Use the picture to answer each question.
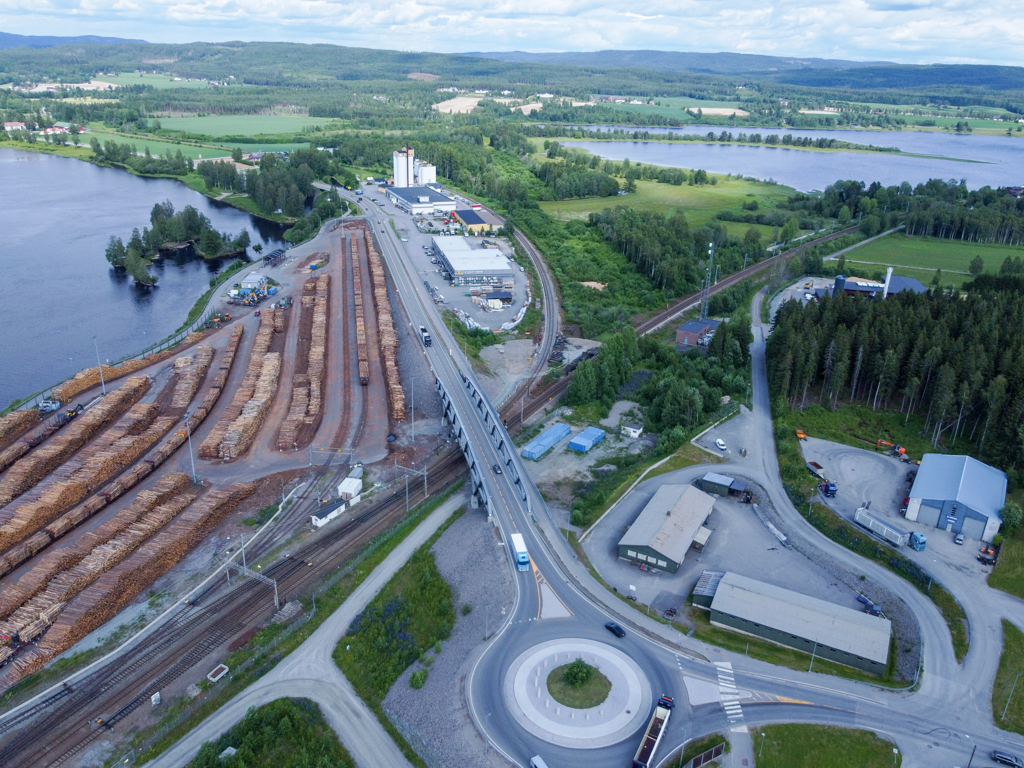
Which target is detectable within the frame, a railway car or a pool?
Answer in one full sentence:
It is a railway car that can be seen here.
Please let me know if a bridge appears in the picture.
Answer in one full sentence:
Yes, this view includes a bridge.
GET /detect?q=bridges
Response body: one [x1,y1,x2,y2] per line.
[434,370,537,501]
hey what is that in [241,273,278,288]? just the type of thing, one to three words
building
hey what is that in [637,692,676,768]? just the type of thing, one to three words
truck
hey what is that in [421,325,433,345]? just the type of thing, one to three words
vehicle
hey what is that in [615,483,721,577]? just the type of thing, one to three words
building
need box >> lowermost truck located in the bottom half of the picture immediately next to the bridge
[509,520,530,567]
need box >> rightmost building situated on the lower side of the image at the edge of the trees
[905,453,1012,542]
